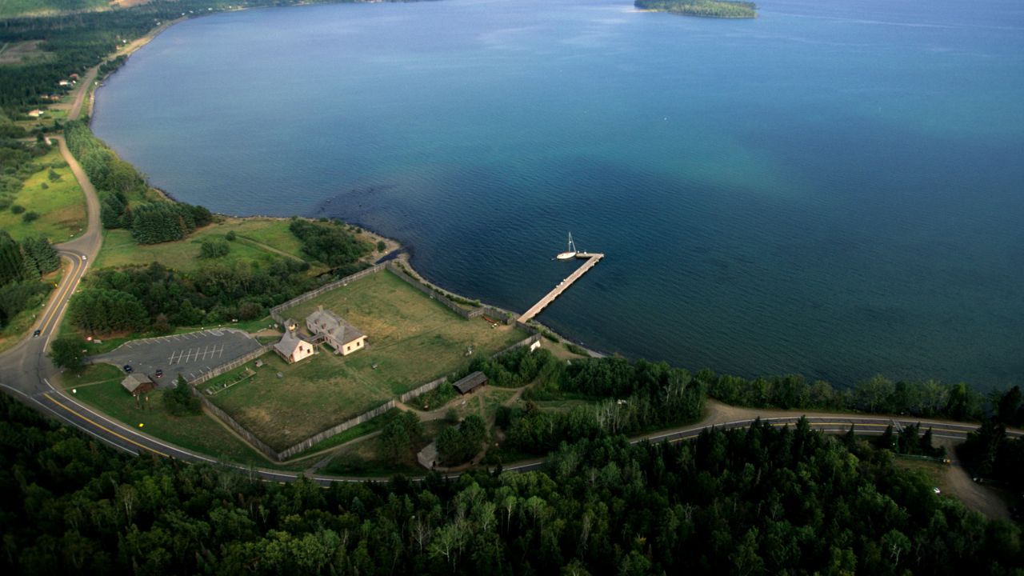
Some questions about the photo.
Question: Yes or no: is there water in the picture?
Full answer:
Yes, there is water in the image.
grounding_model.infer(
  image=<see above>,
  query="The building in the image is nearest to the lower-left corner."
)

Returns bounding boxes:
[123,370,156,398]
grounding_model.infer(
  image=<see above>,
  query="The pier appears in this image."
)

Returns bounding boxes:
[516,255,606,325]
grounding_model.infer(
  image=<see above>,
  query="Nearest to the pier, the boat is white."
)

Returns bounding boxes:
[556,235,576,258]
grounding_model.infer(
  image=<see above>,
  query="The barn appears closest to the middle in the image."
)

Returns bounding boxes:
[451,367,488,393]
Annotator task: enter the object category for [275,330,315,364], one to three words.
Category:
building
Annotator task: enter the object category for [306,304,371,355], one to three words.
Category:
building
